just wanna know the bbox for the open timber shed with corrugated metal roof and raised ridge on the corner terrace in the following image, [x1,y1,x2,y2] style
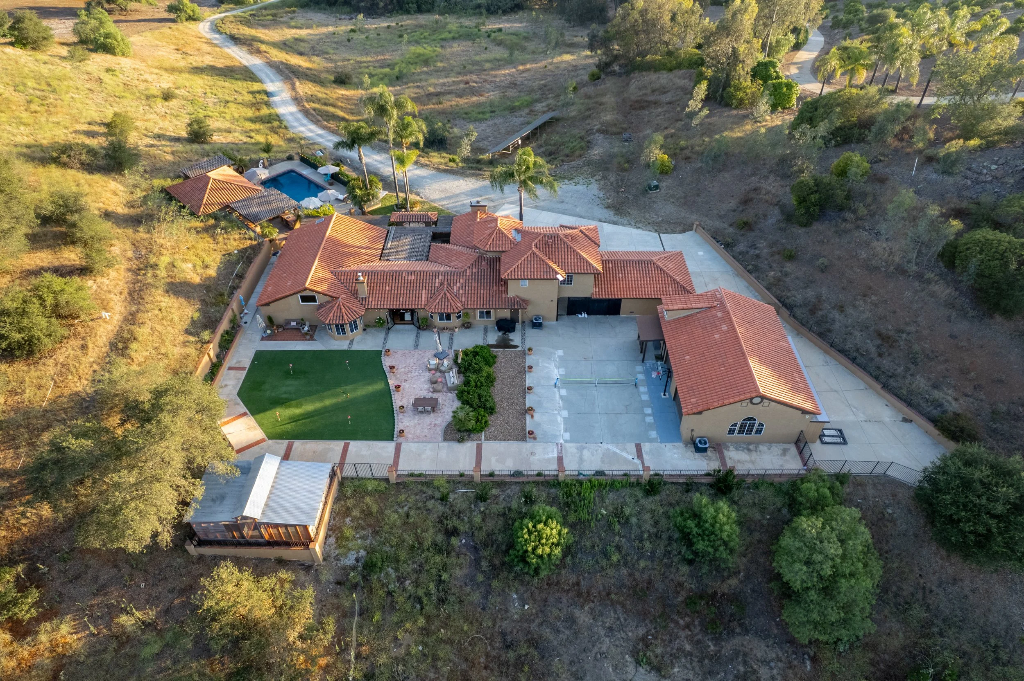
[186,450,335,544]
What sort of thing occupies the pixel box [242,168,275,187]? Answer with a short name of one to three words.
umbrella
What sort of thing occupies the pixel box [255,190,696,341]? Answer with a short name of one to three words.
house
